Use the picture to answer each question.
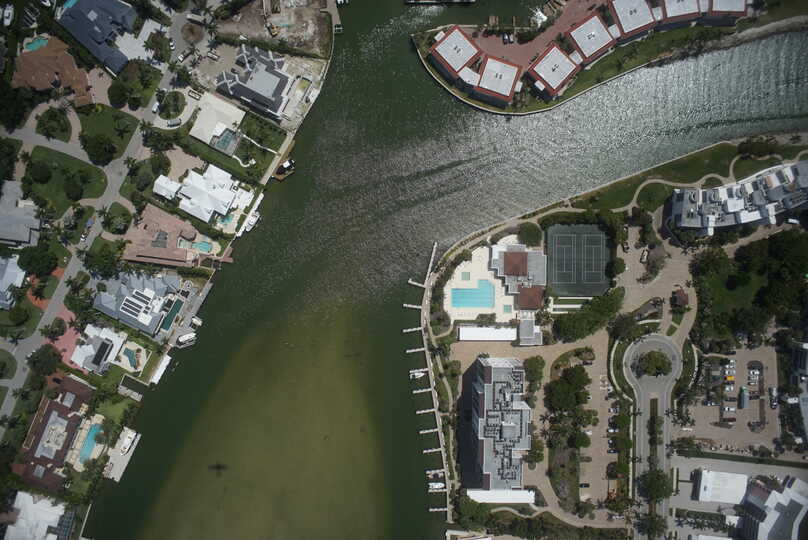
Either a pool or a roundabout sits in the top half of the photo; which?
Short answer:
pool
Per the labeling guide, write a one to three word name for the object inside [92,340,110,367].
solar panel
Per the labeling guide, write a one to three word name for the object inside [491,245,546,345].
building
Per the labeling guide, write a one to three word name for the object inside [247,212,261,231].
boat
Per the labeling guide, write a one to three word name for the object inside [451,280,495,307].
swimming pool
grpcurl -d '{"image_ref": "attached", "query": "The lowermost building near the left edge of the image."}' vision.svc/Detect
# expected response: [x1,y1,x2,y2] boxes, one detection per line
[6,490,66,540]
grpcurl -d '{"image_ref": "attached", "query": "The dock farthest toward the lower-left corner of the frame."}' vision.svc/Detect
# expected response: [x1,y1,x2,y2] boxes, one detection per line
[102,426,142,482]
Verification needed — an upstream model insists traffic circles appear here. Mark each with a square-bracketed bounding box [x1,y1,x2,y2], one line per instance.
[624,334,683,392]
